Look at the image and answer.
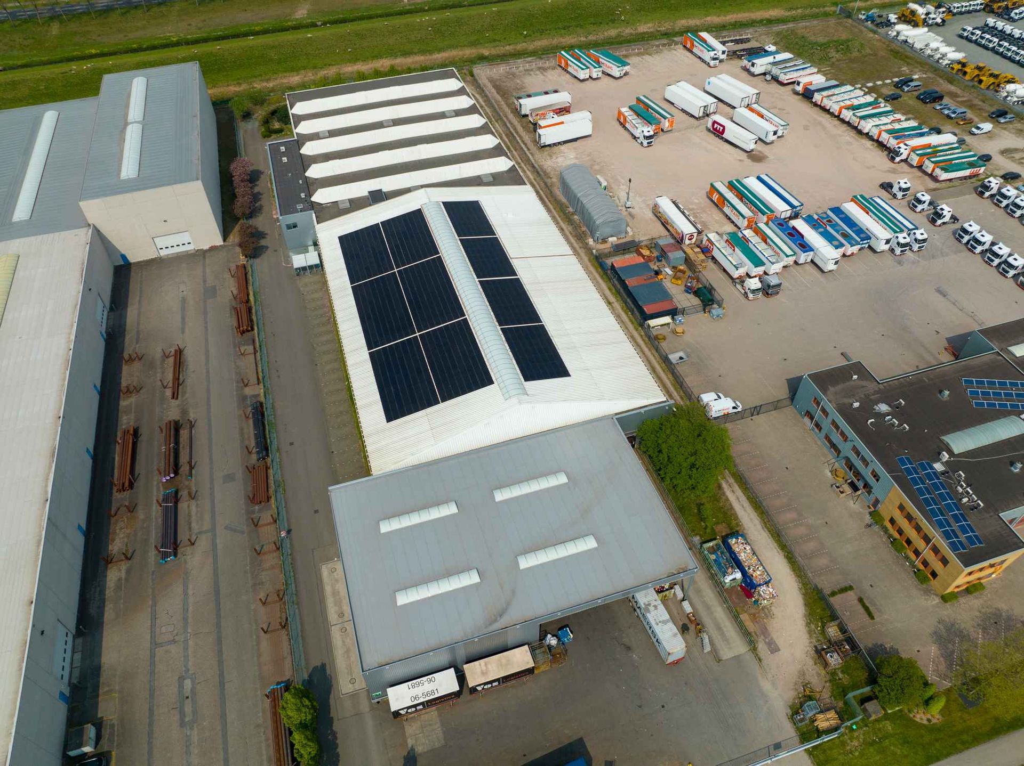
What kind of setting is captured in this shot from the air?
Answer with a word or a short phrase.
industrial area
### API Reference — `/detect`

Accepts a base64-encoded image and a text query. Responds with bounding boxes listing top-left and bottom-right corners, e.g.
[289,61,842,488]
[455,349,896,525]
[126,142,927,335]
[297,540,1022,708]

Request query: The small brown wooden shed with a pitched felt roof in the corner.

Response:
[858,696,888,724]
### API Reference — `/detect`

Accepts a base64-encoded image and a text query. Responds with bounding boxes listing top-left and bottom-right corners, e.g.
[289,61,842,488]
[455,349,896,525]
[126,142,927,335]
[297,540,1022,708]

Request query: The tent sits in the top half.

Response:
[563,166,624,239]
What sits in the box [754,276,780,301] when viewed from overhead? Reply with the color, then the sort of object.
gray truck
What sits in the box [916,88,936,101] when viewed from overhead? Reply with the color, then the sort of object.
black vehicle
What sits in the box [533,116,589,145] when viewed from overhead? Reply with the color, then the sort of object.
white trailer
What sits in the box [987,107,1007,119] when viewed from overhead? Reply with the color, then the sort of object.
black vehicle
